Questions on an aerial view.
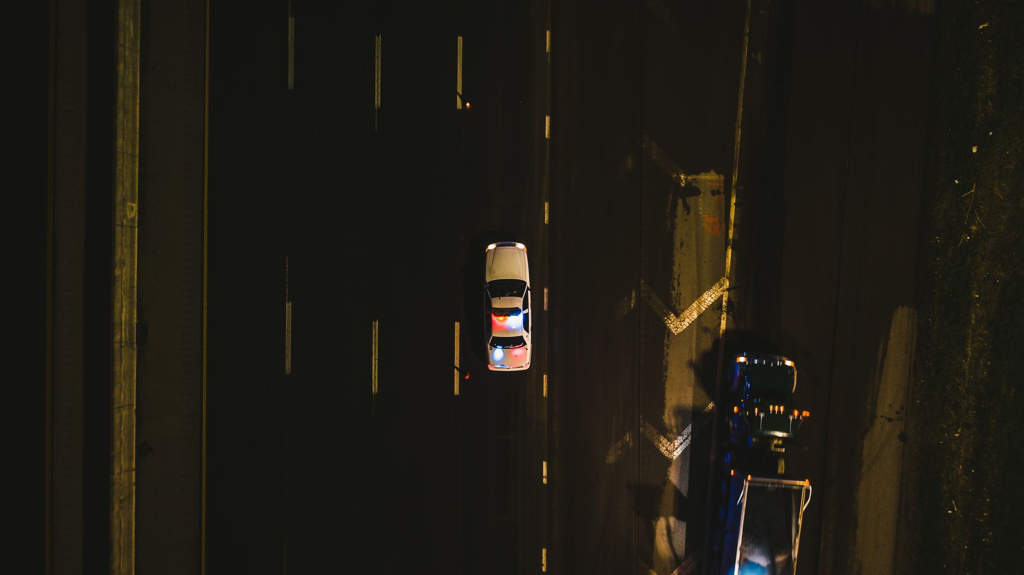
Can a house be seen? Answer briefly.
No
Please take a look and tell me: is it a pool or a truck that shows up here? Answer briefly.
truck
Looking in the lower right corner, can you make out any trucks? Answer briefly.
Yes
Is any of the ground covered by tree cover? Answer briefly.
No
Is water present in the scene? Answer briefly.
No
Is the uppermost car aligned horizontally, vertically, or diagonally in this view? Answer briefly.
vertically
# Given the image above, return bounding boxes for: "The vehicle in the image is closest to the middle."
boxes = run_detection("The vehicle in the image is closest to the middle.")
[481,242,534,372]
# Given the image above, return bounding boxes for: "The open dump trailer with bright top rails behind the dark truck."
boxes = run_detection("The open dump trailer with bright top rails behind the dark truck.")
[716,466,813,575]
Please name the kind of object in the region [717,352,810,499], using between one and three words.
truck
